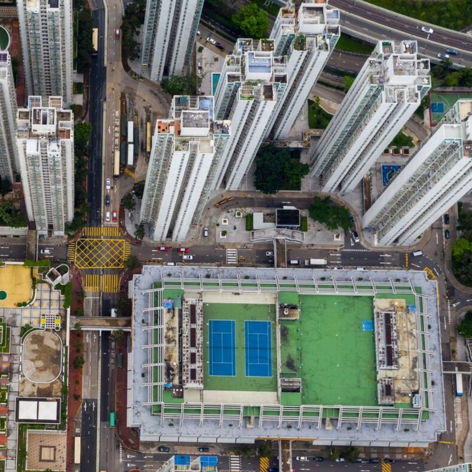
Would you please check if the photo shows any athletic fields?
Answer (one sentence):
Yes, there's an athletic field here.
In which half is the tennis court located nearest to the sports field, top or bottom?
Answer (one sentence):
The bottom half of the photo is where the tennis court located nearest to the sports field is.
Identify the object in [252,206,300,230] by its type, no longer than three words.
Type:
building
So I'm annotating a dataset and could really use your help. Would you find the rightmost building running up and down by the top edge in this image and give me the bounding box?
[260,0,341,153]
